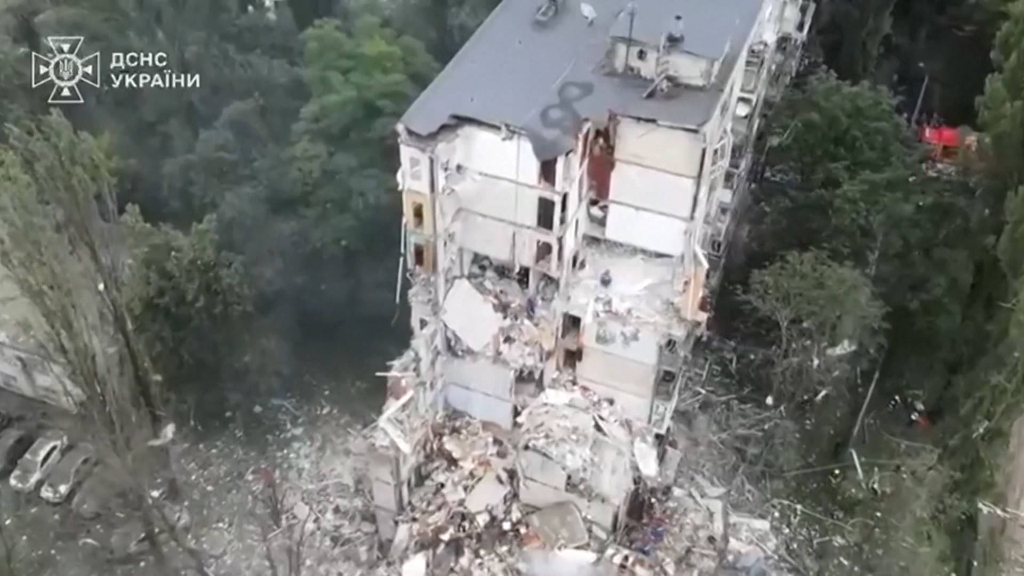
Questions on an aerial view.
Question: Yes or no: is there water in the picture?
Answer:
No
